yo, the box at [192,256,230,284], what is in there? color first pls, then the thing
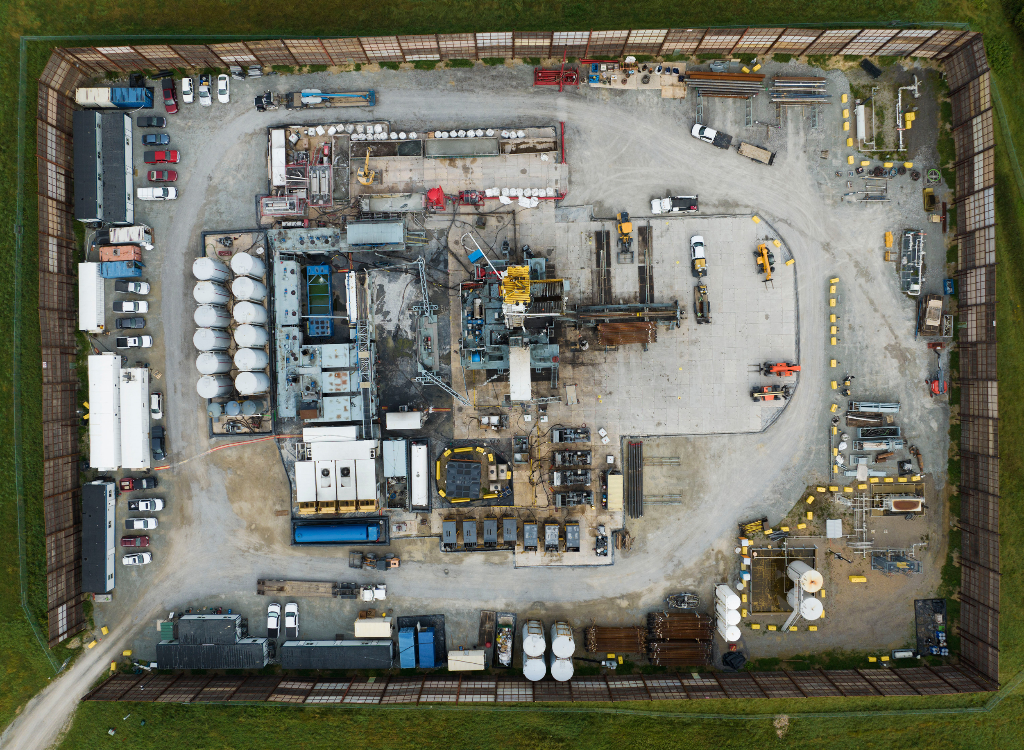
white storage tank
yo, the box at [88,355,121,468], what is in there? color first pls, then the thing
white trailer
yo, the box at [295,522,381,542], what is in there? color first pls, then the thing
blue water tank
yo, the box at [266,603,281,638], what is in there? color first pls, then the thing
white vehicle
